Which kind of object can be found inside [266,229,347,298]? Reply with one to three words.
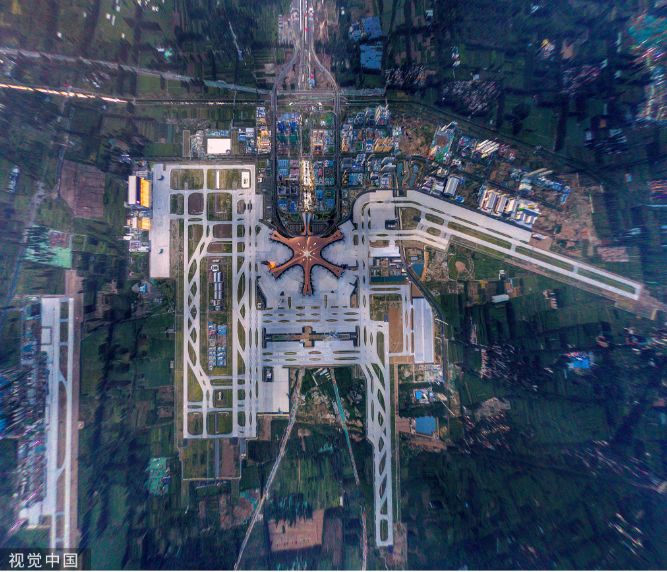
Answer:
building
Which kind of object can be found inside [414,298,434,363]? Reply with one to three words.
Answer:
hangar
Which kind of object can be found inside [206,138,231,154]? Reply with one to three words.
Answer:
hangar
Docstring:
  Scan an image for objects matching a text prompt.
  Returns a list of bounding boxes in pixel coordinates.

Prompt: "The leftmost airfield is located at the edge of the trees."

[19,298,73,550]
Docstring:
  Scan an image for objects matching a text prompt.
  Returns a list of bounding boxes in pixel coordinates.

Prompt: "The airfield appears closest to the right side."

[149,164,640,546]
